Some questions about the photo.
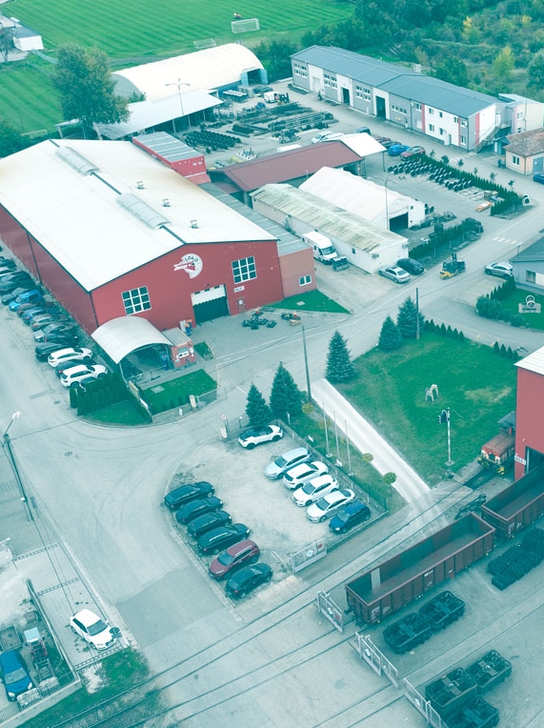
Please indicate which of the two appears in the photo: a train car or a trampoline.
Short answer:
train car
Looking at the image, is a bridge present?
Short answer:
No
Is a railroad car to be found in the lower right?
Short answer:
Yes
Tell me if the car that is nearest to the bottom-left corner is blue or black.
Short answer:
blue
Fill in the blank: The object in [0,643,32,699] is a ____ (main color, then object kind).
blue car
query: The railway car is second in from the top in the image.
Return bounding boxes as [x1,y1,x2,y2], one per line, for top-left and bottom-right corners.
[481,460,544,545]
